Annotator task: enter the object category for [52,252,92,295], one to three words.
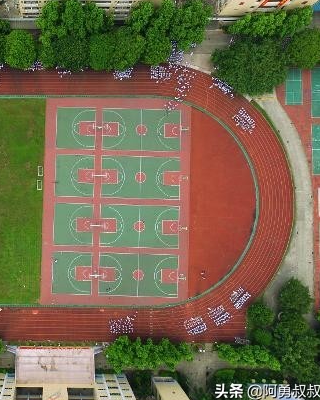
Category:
basketball court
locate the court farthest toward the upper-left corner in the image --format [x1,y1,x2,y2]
[56,107,95,149]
